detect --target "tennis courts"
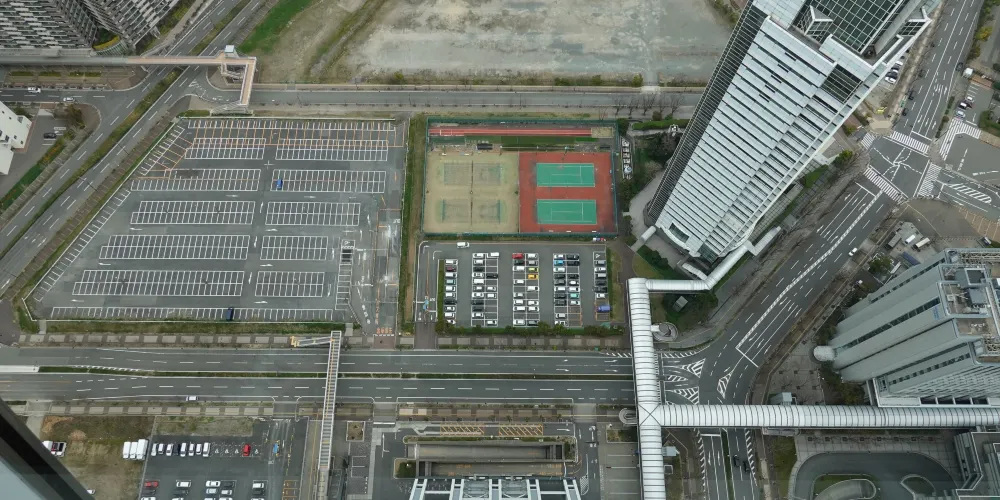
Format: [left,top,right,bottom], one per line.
[520,152,612,193]
[520,193,614,232]
[424,152,520,191]
[423,191,520,232]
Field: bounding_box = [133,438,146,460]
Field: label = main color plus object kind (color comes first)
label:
white vehicle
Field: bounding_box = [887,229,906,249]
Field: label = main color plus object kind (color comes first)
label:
gray vehicle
